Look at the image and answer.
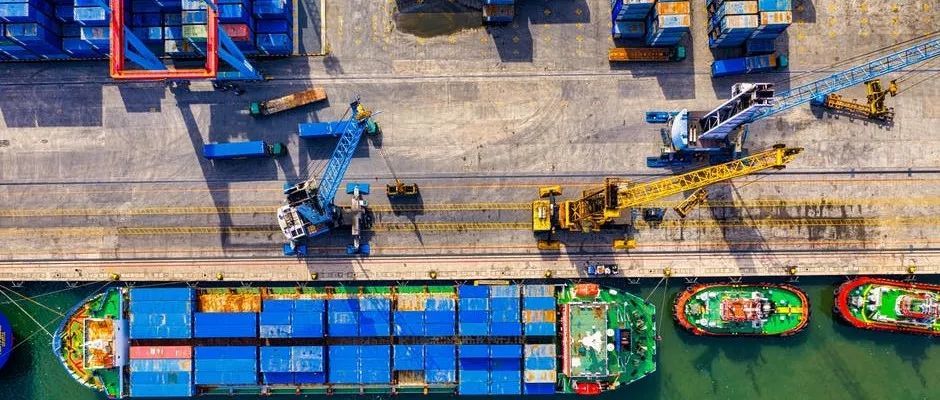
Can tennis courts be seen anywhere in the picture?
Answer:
No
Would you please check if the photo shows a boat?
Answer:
Yes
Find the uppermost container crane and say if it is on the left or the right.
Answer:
left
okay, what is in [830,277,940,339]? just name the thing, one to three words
boat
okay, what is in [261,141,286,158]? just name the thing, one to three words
vehicle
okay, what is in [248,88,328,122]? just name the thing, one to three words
truck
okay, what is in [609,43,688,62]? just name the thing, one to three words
vehicle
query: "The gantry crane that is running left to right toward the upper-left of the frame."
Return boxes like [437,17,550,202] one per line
[90,0,274,84]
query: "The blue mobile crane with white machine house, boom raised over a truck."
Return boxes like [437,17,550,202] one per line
[273,95,373,255]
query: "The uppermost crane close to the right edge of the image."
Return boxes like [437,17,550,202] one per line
[643,29,940,167]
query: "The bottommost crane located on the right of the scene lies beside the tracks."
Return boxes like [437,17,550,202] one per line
[530,139,806,250]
